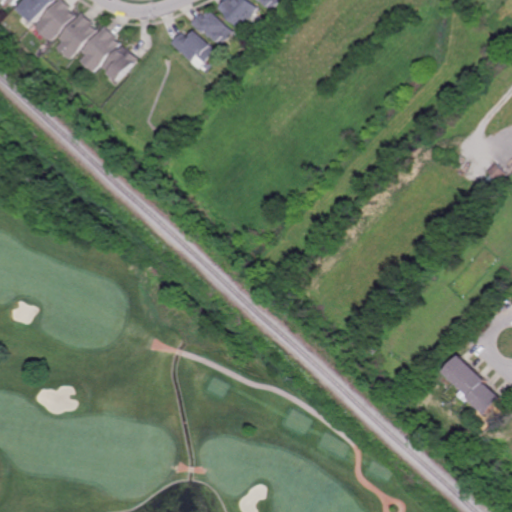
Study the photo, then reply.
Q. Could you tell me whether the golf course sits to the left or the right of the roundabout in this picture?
to its left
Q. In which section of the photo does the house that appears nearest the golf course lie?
bottom right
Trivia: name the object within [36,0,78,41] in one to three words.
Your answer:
house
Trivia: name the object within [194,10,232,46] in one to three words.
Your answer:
house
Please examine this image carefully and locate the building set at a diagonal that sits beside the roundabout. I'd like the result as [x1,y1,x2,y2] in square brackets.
[438,353,500,415]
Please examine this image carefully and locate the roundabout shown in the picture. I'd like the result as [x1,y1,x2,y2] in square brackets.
[480,304,512,380]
